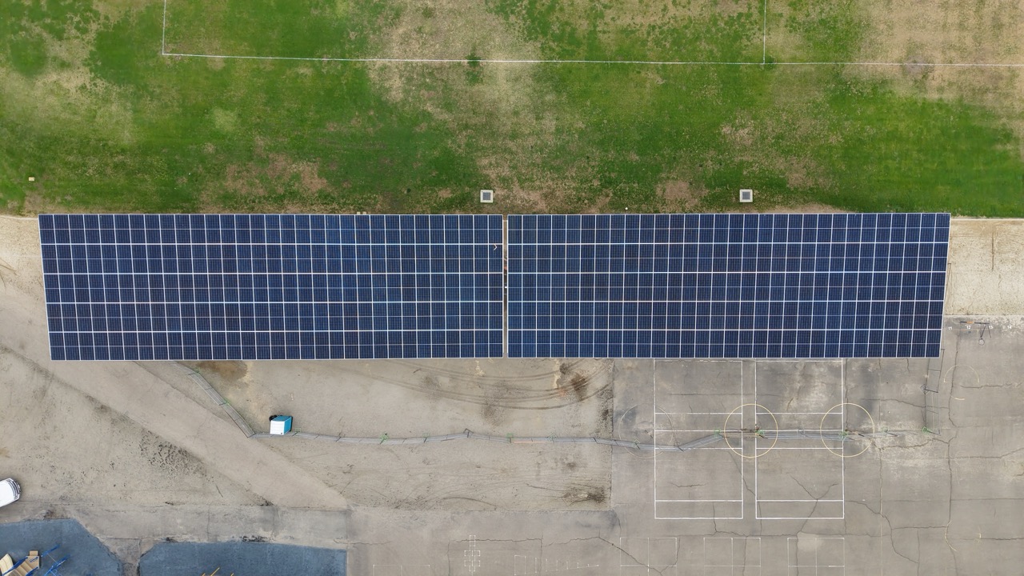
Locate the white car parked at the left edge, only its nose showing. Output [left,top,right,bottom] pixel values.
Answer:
[0,483,21,512]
